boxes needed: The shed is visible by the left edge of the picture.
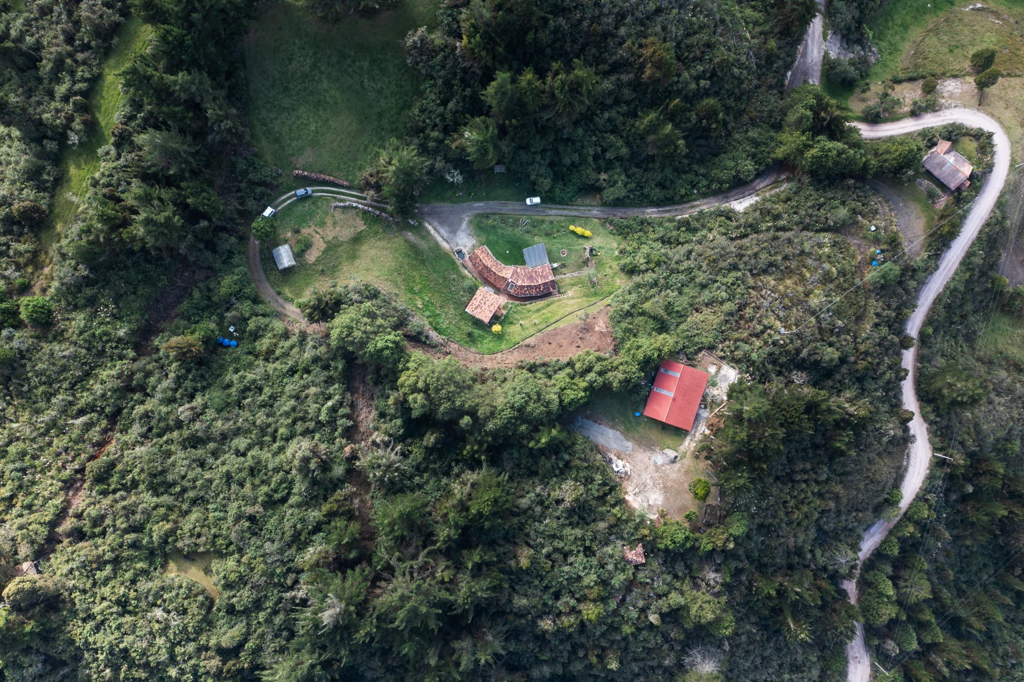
[14,561,42,578]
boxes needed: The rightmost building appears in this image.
[920,139,972,190]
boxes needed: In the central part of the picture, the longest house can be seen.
[468,245,557,296]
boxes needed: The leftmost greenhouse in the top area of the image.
[272,244,297,270]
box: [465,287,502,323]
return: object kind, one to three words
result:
shed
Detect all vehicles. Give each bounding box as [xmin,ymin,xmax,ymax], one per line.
[295,187,312,197]
[260,205,275,219]
[526,197,541,205]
